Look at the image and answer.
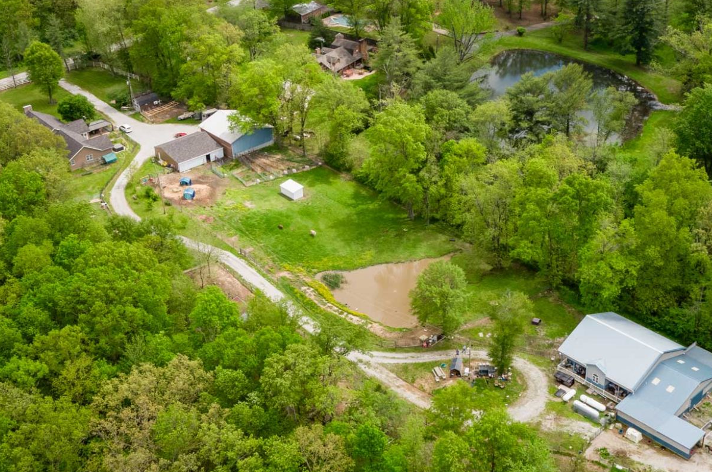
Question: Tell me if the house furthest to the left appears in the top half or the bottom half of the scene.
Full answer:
You can find the house furthest to the left in the top half.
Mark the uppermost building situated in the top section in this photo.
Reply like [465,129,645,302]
[287,3,337,21]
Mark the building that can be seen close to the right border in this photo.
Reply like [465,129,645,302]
[555,311,712,459]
